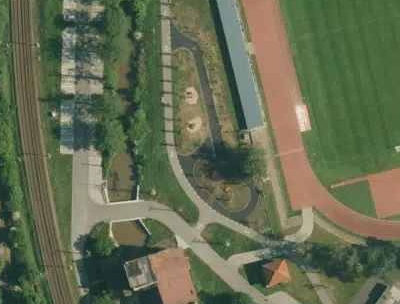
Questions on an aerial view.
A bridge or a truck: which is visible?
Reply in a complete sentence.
Looking from above, you can make out a bridge.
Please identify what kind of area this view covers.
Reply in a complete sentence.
The picture captures a sports ground.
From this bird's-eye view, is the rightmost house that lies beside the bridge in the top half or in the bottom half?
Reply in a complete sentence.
It is in the bottom half that the rightmost house that lies beside the bridge appears.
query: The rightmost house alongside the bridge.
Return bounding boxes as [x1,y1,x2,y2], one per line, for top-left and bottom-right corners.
[150,250,196,304]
